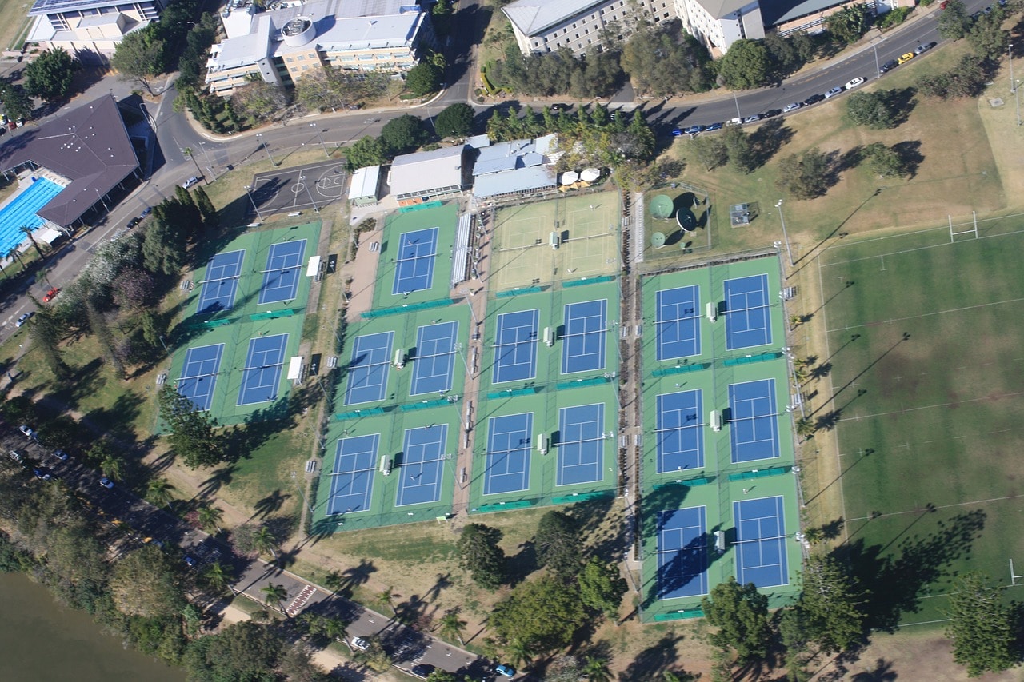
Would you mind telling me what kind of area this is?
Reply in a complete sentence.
This image shows a sports ground.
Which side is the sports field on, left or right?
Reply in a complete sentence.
You can find the sports field on the right side of the picture.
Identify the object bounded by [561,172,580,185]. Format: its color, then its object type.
white umbrella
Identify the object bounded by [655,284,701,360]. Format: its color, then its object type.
blue tennis court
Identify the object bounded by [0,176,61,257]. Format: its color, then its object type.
blue swimming pool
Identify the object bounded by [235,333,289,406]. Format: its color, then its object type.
blue tennis court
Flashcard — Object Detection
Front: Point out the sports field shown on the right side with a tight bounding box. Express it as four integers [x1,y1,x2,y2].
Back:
[819,218,1024,645]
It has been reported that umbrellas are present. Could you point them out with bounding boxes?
[561,172,580,185]
[580,168,601,183]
